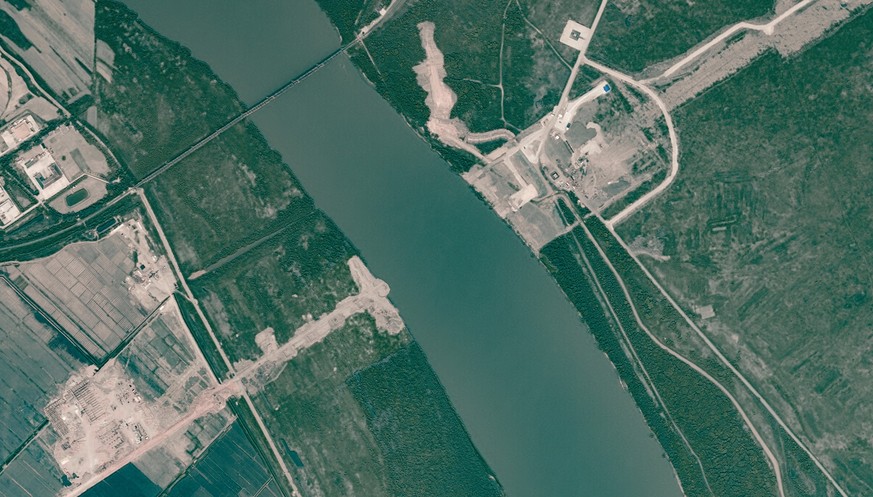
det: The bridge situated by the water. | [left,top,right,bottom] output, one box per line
[132,35,361,191]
